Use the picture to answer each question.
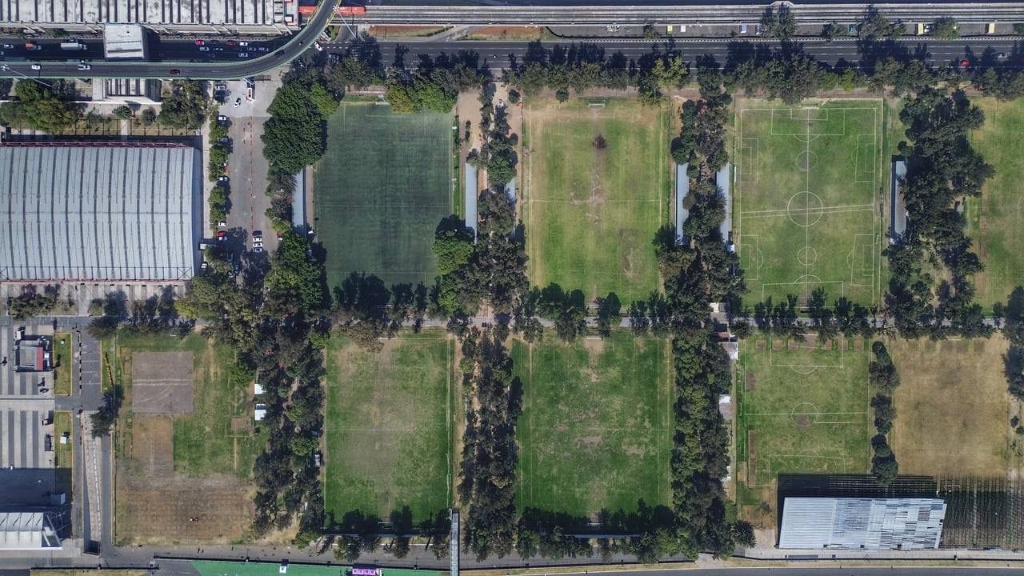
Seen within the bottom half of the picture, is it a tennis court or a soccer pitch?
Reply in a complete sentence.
You can see a soccer pitch within the bottom half of the picture.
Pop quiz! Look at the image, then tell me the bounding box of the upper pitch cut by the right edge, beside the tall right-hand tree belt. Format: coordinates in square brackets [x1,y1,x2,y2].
[966,94,1024,314]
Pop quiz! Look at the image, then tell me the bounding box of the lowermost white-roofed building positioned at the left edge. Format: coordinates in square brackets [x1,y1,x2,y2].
[0,502,71,550]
